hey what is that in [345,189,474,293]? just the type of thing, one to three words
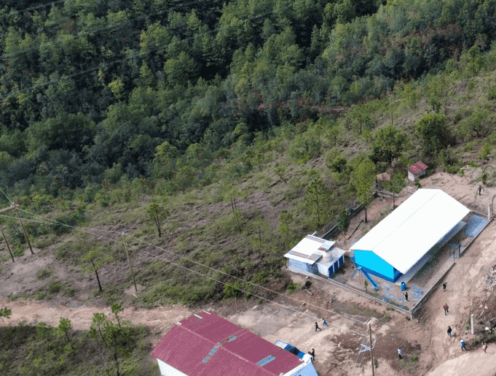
building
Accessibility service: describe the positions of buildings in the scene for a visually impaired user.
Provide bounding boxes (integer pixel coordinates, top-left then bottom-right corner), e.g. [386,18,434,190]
[407,162,428,181]
[287,228,336,271]
[151,311,321,376]
[345,189,474,293]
